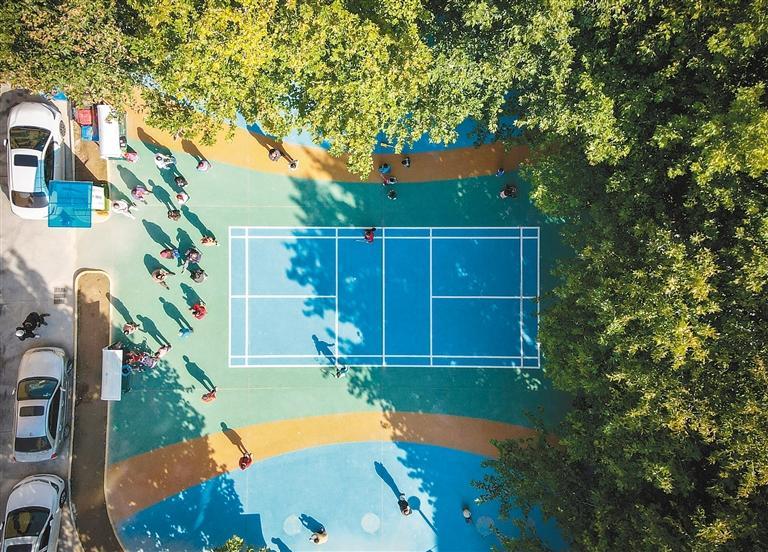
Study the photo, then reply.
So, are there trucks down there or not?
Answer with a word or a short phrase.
No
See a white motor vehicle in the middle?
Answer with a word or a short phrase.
No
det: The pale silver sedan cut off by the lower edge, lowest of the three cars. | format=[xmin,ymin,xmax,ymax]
[5,472,66,552]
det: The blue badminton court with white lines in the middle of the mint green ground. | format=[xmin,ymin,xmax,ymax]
[229,226,540,367]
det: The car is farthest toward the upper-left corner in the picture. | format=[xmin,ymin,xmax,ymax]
[2,104,63,220]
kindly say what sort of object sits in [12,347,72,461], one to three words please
car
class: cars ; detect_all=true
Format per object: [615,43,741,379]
[2,104,63,220]
[5,472,66,552]
[12,347,72,461]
